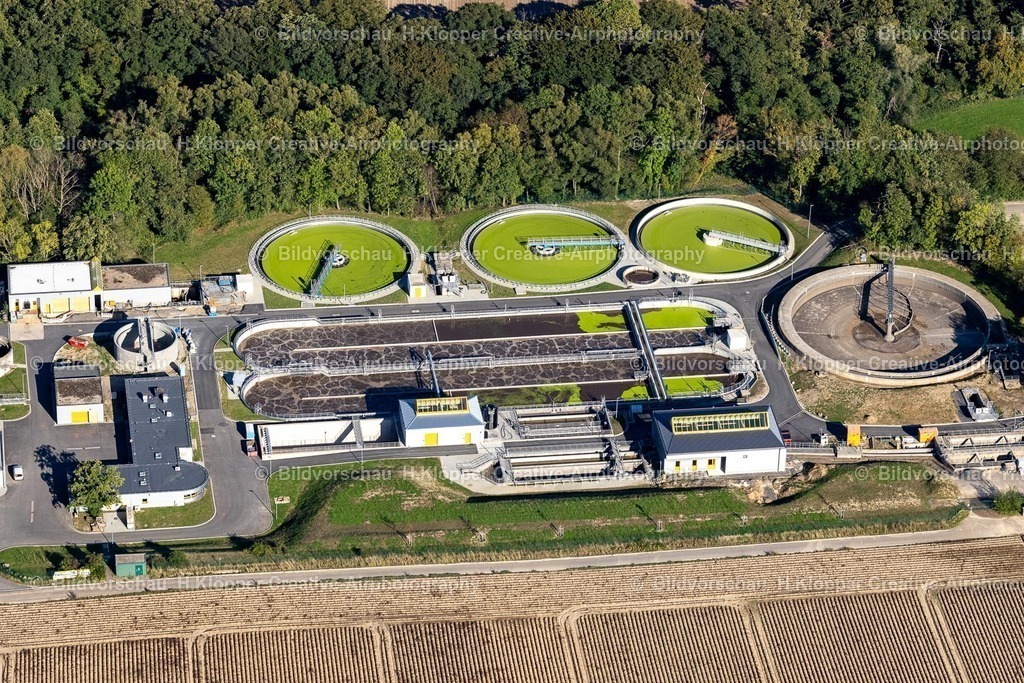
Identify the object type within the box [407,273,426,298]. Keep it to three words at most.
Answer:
shed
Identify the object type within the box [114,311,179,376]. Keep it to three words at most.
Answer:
storage tank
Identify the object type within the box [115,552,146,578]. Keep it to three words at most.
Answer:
shed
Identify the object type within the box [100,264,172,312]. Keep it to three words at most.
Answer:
building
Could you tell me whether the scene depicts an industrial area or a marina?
industrial area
